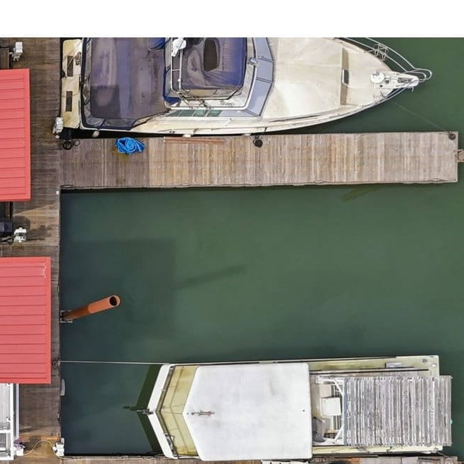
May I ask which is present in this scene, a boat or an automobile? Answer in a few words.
boat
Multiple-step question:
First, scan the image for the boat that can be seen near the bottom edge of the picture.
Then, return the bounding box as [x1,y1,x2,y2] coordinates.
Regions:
[126,356,452,462]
